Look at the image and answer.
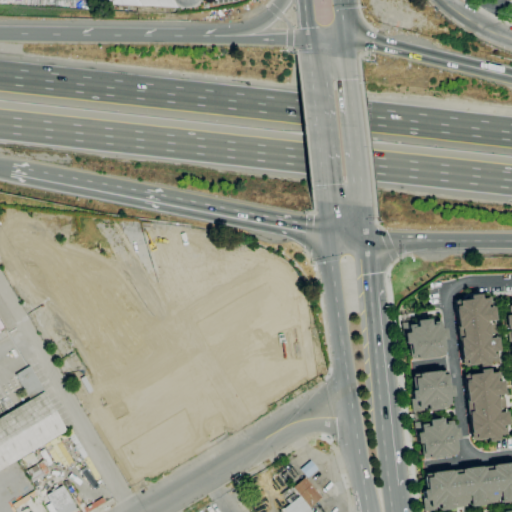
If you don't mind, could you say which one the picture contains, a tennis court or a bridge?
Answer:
bridge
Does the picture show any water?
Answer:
No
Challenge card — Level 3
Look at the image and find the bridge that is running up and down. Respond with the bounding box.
[297,48,378,214]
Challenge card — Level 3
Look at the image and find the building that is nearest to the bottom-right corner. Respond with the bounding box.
[424,466,512,510]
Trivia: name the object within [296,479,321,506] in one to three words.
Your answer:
shed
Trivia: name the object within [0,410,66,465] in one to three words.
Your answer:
building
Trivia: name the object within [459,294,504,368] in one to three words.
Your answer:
building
